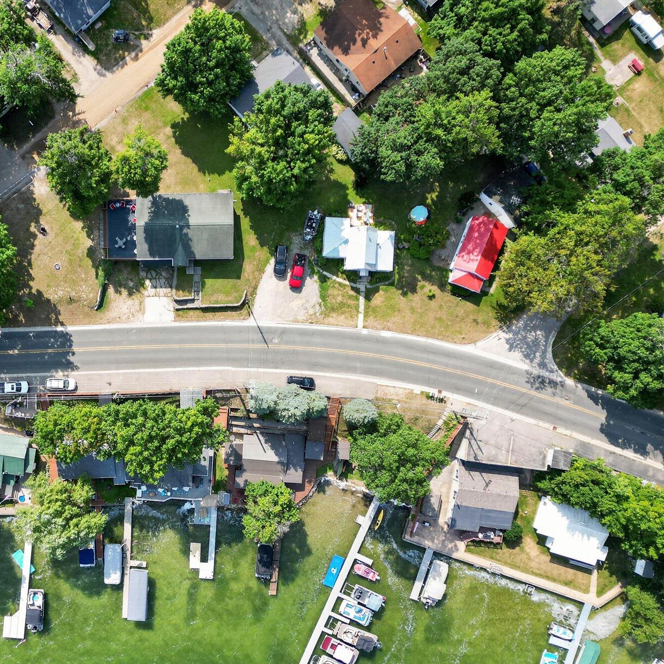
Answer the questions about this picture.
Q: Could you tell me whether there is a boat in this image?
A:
Yes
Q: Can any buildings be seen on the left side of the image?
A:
Yes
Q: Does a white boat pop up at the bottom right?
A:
Yes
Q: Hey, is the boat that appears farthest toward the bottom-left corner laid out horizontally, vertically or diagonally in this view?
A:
vertically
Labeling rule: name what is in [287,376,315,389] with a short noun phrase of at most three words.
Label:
vehicle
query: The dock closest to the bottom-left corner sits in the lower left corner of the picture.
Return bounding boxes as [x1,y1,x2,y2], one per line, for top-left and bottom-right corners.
[4,539,33,638]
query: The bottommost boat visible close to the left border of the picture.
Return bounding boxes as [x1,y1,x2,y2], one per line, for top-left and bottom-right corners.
[25,589,44,635]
